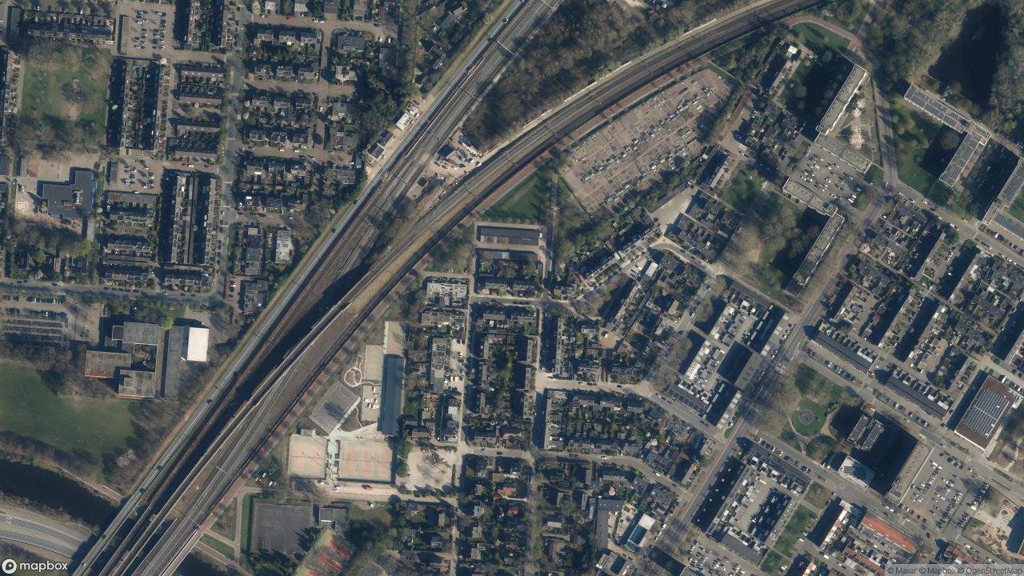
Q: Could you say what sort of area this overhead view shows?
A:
residential area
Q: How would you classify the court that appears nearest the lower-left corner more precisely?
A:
basketball court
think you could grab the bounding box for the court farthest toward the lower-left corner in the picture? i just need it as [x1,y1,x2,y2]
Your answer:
[250,504,312,553]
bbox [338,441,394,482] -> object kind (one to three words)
tennis court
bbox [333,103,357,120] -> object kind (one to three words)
house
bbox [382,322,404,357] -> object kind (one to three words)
building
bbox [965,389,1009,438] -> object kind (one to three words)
solar array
